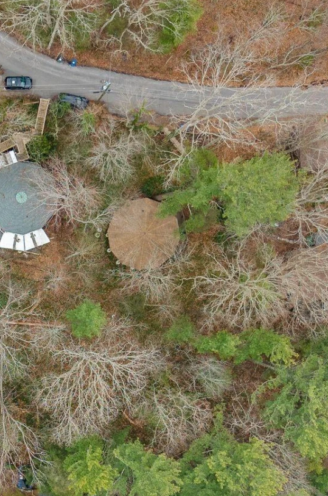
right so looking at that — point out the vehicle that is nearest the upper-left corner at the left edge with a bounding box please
[3,74,33,89]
